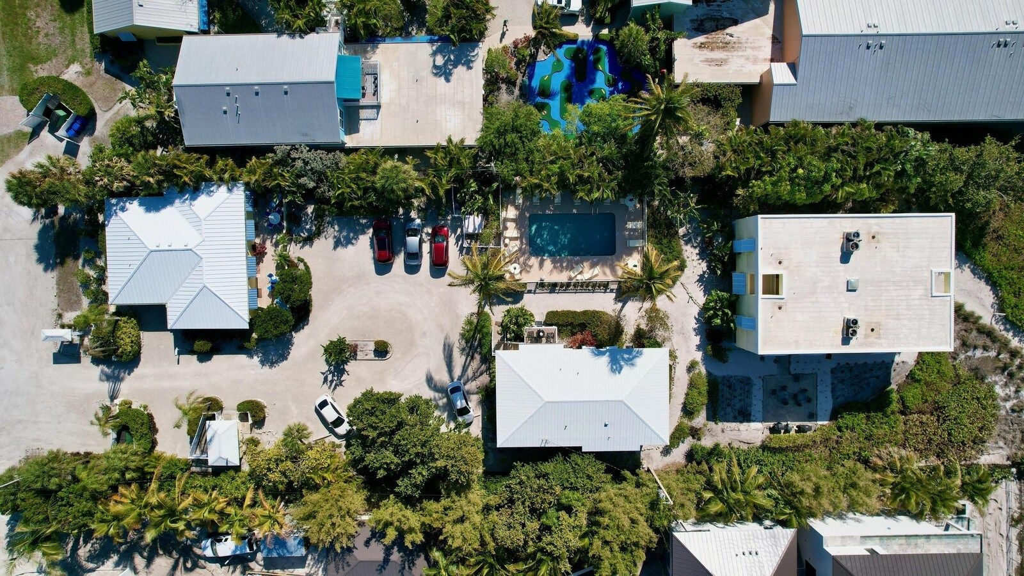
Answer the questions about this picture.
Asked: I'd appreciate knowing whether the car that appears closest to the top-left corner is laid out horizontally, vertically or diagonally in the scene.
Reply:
vertically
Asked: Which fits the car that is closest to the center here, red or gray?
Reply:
red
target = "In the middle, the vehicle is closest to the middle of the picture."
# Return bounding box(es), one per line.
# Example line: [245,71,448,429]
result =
[429,224,452,270]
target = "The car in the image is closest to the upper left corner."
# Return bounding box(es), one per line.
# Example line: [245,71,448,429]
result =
[370,219,396,267]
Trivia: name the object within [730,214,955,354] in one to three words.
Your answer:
building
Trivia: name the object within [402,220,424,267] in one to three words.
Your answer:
car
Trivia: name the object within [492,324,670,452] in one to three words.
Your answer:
house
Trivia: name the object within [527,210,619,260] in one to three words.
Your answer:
swimming pool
